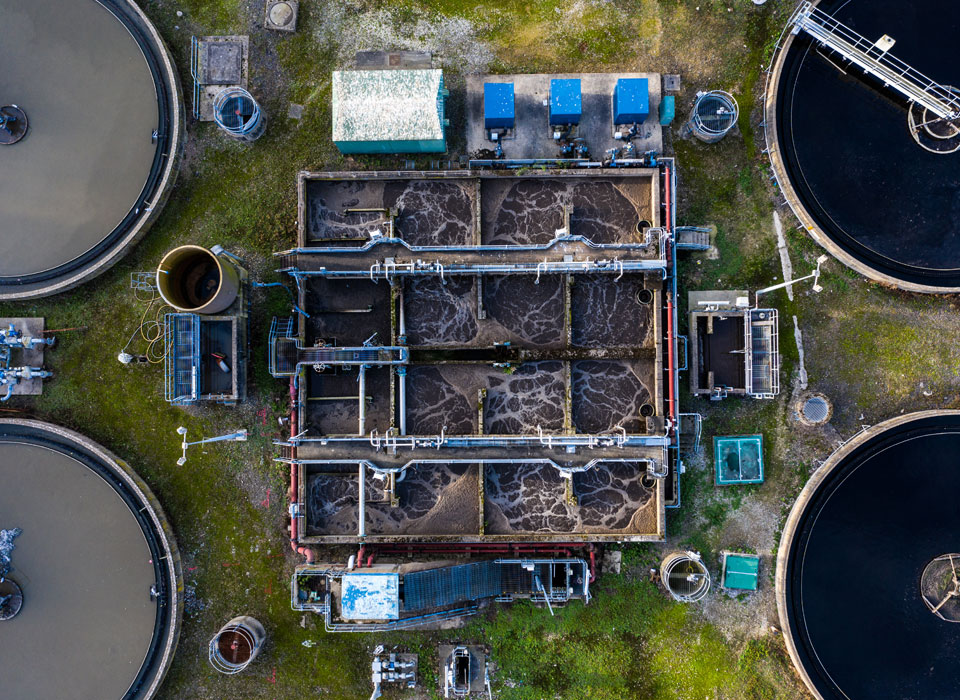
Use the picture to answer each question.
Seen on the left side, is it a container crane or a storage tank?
storage tank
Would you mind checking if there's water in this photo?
Yes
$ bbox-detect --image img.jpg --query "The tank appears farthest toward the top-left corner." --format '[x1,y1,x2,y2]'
[0,0,187,302]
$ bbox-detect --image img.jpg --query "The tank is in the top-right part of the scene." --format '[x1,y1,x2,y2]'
[751,0,960,296]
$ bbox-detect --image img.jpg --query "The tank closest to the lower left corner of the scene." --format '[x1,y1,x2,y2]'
[0,416,188,700]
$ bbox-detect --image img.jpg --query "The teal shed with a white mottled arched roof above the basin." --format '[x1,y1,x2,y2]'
[331,69,451,153]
